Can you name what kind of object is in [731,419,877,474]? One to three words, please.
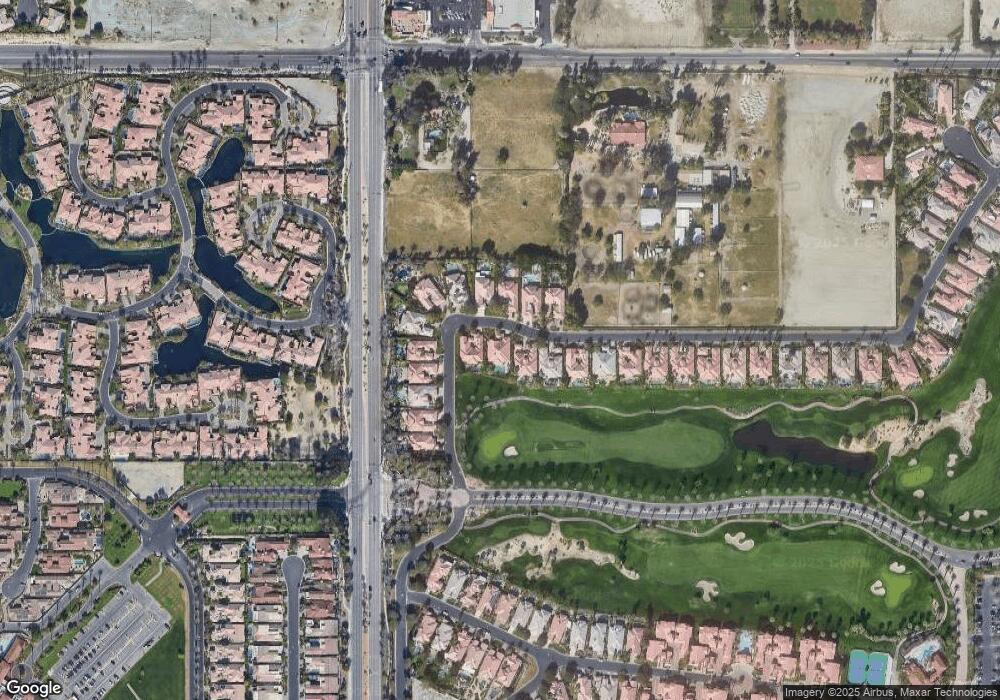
pond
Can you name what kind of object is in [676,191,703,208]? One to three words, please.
barn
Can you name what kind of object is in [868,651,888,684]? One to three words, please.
tennis court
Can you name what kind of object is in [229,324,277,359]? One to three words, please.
house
